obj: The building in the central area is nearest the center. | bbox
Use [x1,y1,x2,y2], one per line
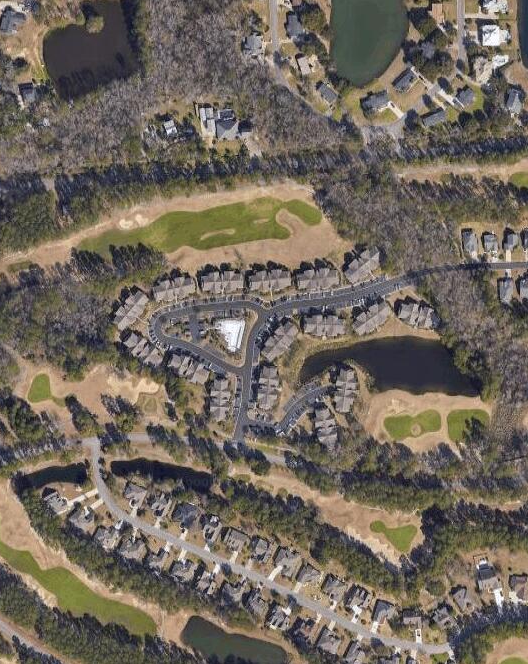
[259,320,299,360]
